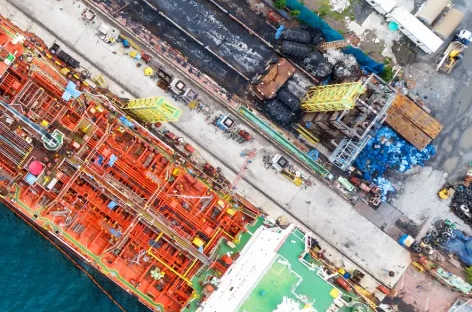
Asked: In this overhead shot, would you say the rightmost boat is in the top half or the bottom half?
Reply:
bottom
